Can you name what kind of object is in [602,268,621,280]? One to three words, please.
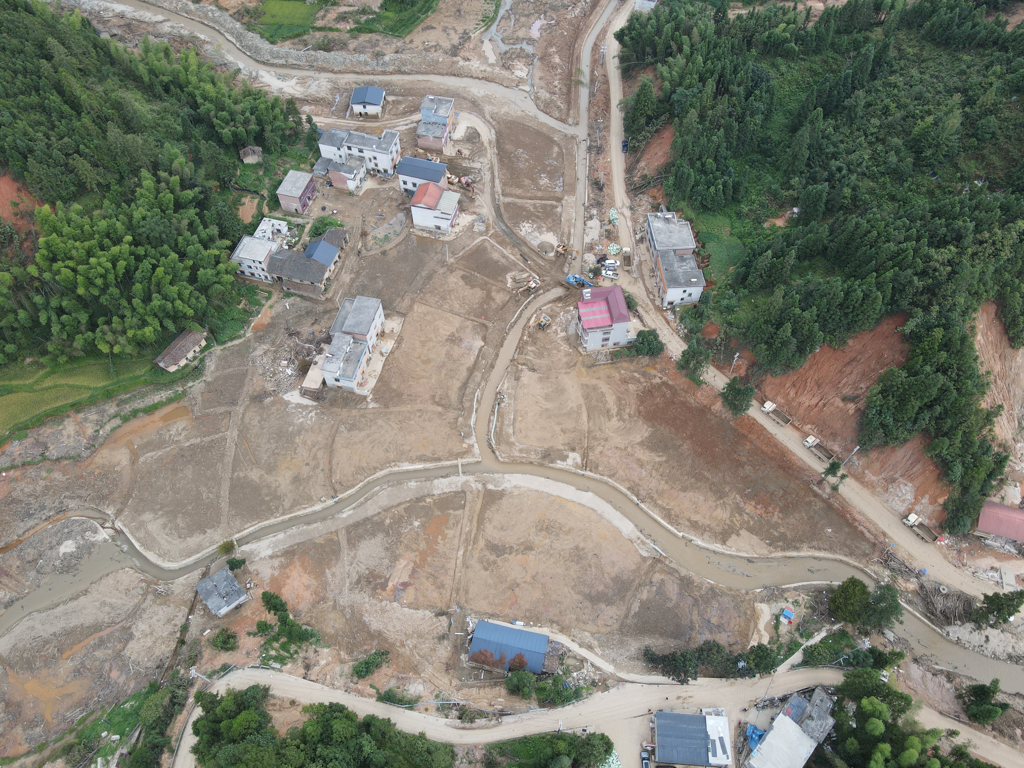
vehicle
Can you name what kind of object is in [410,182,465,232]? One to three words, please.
house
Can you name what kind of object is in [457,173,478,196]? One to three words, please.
work vehicle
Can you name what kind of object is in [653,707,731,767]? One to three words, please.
building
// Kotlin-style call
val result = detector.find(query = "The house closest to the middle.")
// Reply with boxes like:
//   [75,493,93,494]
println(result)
[576,286,635,347]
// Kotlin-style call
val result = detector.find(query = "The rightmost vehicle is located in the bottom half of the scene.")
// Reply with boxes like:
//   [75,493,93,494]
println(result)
[903,507,948,543]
